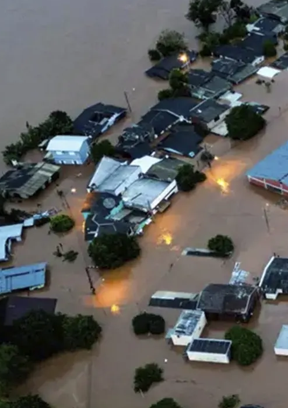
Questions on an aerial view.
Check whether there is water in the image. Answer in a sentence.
Yes, there's water in this view.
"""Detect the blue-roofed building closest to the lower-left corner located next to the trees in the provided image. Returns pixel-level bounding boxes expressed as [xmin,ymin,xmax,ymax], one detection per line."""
[0,262,47,298]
